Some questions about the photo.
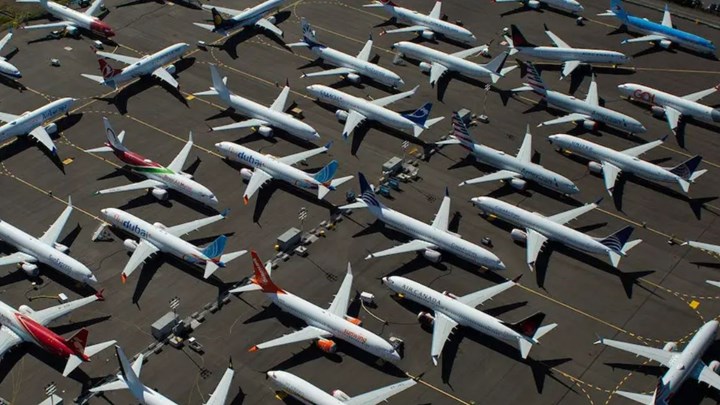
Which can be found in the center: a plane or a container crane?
plane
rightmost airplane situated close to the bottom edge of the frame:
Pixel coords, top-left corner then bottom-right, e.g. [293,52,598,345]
[596,319,720,405]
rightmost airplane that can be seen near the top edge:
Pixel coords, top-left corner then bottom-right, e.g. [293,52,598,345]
[598,0,716,53]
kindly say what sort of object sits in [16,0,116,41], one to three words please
airplane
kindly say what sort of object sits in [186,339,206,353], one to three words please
vehicle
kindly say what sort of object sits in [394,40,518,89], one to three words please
airplane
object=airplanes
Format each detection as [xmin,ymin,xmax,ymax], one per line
[362,0,476,44]
[192,63,320,141]
[309,84,445,139]
[598,0,716,53]
[227,250,400,360]
[0,288,118,378]
[435,110,579,195]
[394,40,518,89]
[83,117,219,206]
[550,134,708,197]
[0,196,97,283]
[511,60,646,135]
[101,207,248,286]
[193,0,288,39]
[473,196,643,271]
[267,371,425,405]
[596,319,720,405]
[618,83,720,134]
[285,18,404,89]
[80,43,193,91]
[215,140,354,206]
[384,274,558,365]
[0,96,76,155]
[503,23,630,79]
[492,0,582,14]
[16,0,116,41]
[338,171,506,271]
